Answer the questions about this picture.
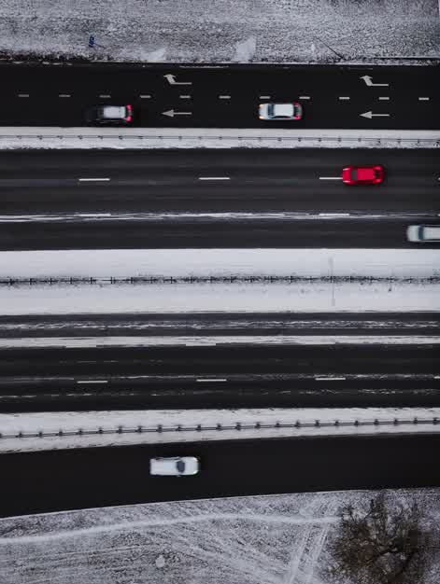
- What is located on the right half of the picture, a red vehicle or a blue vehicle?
red vehicle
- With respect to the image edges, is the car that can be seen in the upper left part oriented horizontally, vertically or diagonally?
horizontally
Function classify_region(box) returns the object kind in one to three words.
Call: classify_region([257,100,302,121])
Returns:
car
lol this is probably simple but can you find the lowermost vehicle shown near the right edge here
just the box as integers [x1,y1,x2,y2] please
[405,223,440,245]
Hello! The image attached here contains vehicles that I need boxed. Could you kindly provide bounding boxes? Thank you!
[148,456,201,478]
[85,104,132,126]
[341,164,383,187]
[257,100,302,121]
[405,223,440,245]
